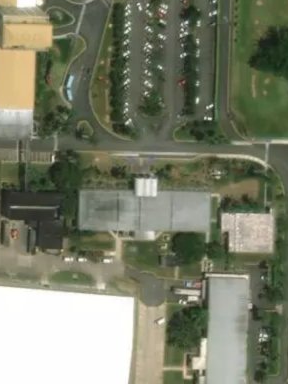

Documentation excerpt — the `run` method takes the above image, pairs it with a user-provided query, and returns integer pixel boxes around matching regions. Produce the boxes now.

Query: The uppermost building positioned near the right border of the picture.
[219,211,274,252]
